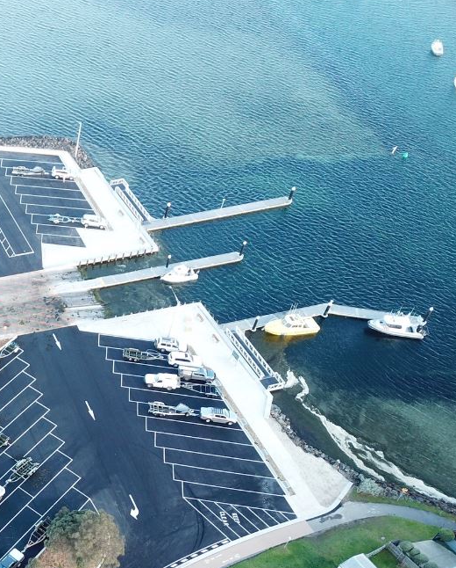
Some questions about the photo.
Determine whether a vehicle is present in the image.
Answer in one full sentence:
Yes, a vehicle is visible in the scene.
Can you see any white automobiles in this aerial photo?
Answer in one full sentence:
Yes, I can see a white automobile in this picture.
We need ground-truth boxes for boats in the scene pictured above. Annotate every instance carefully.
[266,308,322,335]
[161,262,199,285]
[431,39,443,58]
[368,313,428,339]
